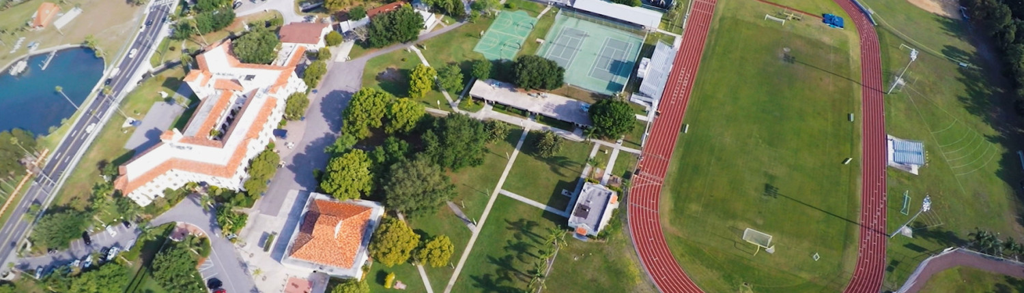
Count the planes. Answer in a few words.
0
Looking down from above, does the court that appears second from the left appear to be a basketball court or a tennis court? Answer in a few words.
tennis court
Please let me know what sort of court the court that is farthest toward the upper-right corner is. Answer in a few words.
tennis court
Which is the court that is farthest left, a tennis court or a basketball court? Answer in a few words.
basketball court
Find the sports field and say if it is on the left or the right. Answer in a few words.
right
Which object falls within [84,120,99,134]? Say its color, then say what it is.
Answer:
white car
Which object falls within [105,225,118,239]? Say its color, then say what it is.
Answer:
white vehicle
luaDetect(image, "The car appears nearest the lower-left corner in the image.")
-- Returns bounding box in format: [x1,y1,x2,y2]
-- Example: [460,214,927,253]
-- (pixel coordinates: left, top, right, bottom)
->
[31,265,46,282]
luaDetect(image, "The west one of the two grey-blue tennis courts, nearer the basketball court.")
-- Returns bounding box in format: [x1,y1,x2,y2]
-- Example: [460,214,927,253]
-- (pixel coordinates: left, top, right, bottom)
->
[534,9,603,80]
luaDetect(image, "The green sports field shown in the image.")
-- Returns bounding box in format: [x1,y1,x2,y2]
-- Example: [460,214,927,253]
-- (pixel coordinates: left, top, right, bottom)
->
[657,0,860,293]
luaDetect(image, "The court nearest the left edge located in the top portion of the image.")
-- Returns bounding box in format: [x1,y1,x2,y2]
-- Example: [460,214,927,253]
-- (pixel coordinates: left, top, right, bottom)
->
[473,9,537,61]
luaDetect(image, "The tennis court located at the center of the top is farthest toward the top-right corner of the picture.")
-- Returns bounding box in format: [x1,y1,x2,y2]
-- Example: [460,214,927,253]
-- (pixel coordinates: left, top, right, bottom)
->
[576,23,647,94]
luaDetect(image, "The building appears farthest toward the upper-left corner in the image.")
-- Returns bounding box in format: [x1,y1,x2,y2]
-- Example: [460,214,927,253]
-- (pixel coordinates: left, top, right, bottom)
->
[21,2,65,31]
